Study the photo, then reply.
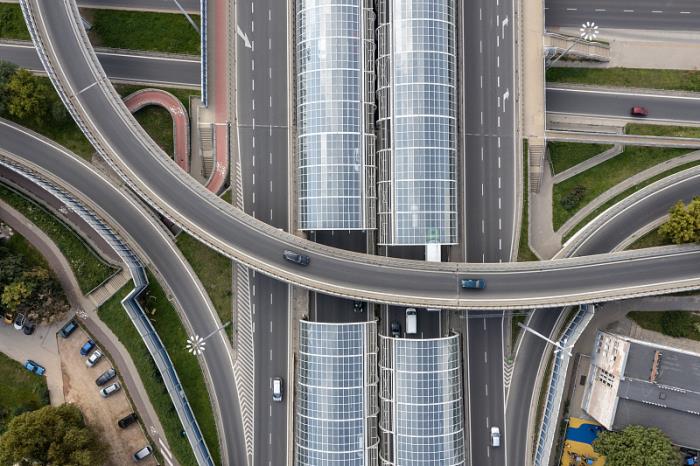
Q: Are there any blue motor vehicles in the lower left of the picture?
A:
Yes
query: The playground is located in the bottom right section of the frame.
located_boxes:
[564,418,612,466]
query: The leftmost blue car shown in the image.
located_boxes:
[25,360,46,374]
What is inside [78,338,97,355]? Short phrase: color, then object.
blue car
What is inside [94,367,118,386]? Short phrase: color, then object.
gray car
